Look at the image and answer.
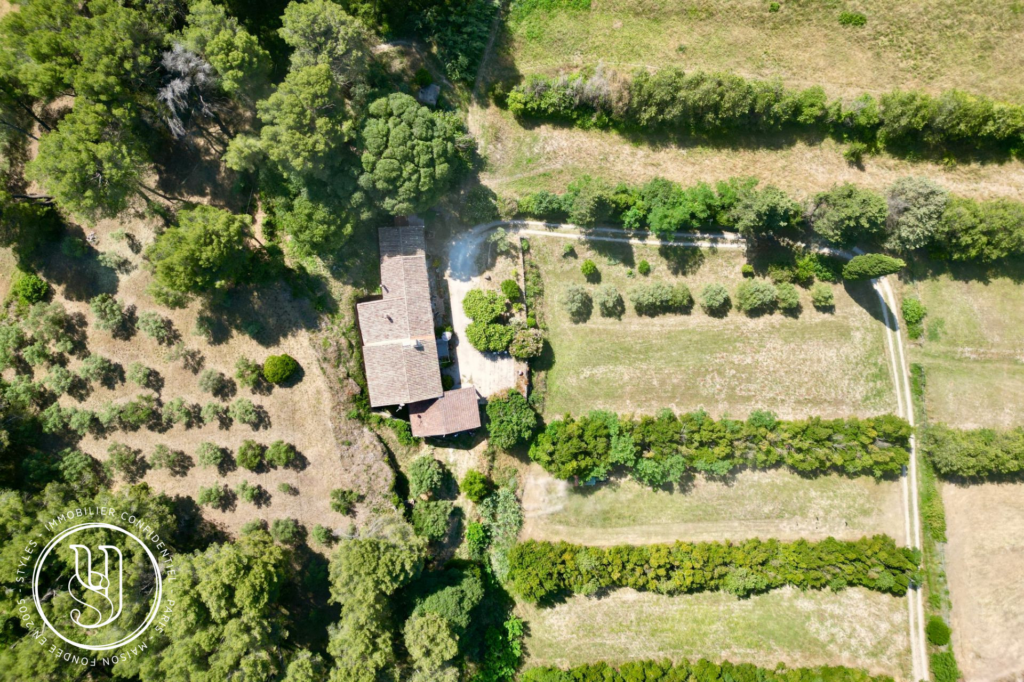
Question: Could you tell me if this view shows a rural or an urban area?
rural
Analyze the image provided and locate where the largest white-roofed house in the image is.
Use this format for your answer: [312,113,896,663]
[356,226,444,409]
